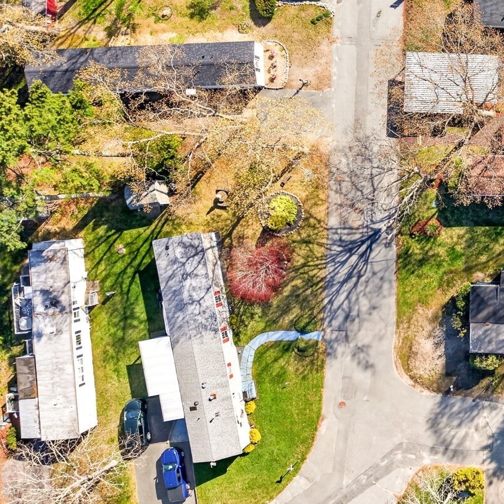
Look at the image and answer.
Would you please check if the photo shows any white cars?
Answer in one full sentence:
No, there isn't any white car down there.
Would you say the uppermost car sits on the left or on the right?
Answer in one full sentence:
It is on the left.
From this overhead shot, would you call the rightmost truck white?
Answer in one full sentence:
No, from above the rightmost truck looks blue.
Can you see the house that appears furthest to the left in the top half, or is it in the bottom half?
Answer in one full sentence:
It is in the bottom half that the house that appears furthest to the left appears.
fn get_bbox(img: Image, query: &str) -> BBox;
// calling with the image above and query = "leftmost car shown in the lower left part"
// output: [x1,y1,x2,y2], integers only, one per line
[121,397,150,445]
